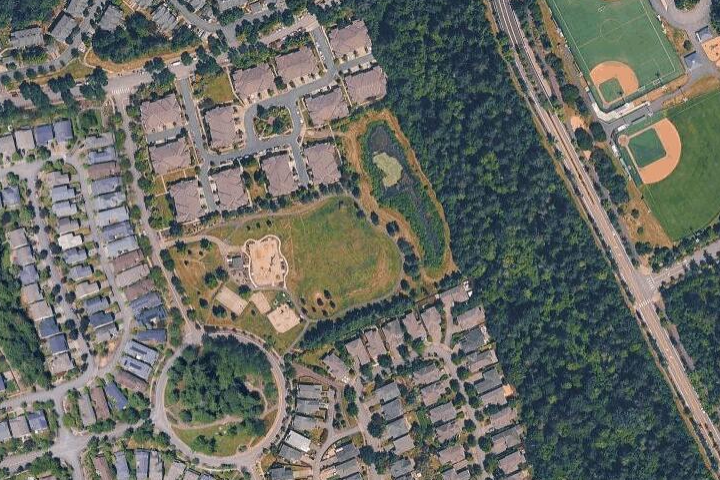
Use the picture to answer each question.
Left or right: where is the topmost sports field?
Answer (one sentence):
The topmost sports field appears in the right half of the scene.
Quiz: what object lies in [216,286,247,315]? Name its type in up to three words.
sports court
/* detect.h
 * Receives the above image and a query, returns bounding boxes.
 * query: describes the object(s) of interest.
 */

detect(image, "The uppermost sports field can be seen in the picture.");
[546,0,684,112]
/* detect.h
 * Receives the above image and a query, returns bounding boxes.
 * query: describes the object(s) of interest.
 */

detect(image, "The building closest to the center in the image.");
[307,145,340,183]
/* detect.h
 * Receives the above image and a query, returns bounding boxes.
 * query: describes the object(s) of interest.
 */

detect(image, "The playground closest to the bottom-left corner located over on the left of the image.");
[244,234,287,289]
